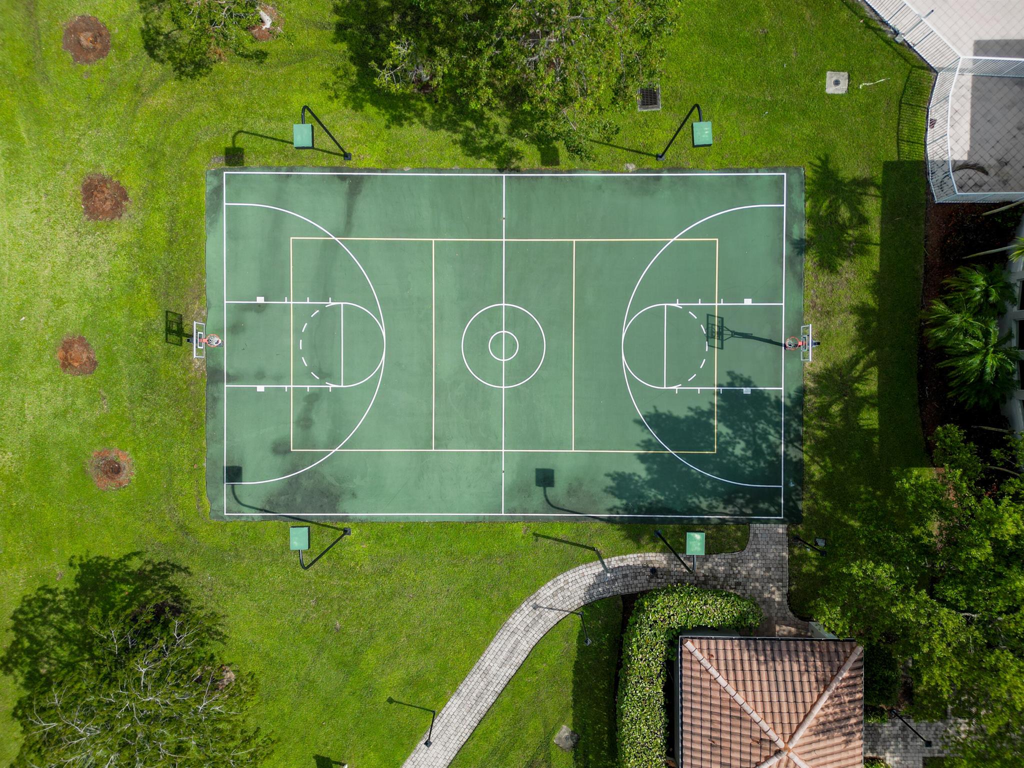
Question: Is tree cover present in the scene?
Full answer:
Yes, tree cover can be seen from above here.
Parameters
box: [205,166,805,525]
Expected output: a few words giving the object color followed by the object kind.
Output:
green basketball court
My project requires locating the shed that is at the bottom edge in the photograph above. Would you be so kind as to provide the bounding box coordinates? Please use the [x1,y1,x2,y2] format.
[675,625,865,768]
